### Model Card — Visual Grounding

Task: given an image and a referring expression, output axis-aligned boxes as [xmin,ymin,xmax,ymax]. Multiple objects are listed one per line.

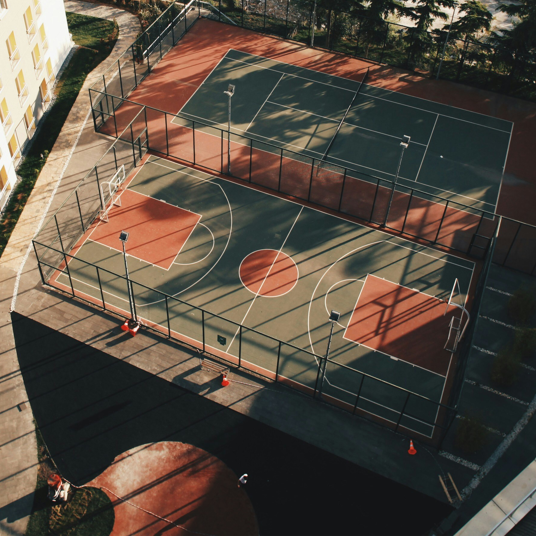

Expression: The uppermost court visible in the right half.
[173,50,512,219]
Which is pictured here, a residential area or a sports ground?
sports ground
